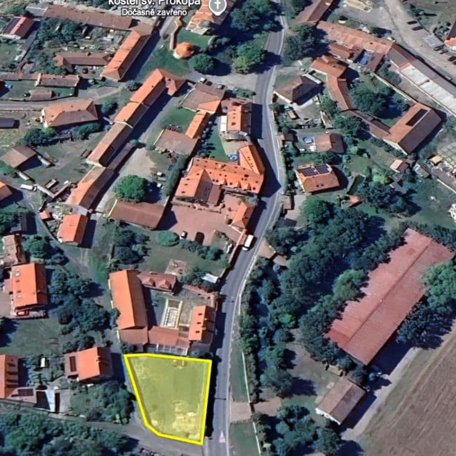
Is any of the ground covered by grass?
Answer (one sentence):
Yes, there's grass in this view.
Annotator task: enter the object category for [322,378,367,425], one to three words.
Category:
barn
